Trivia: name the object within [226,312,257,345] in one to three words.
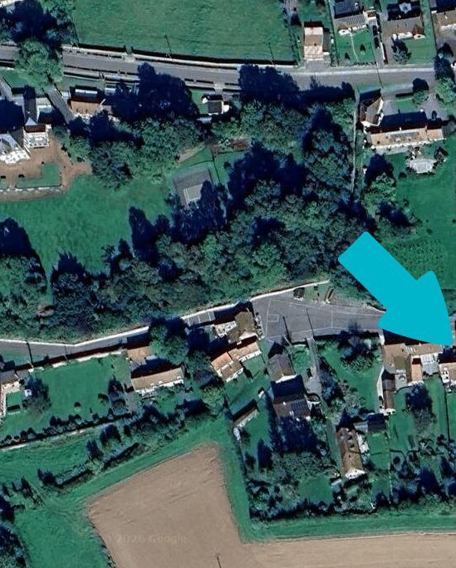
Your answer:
house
